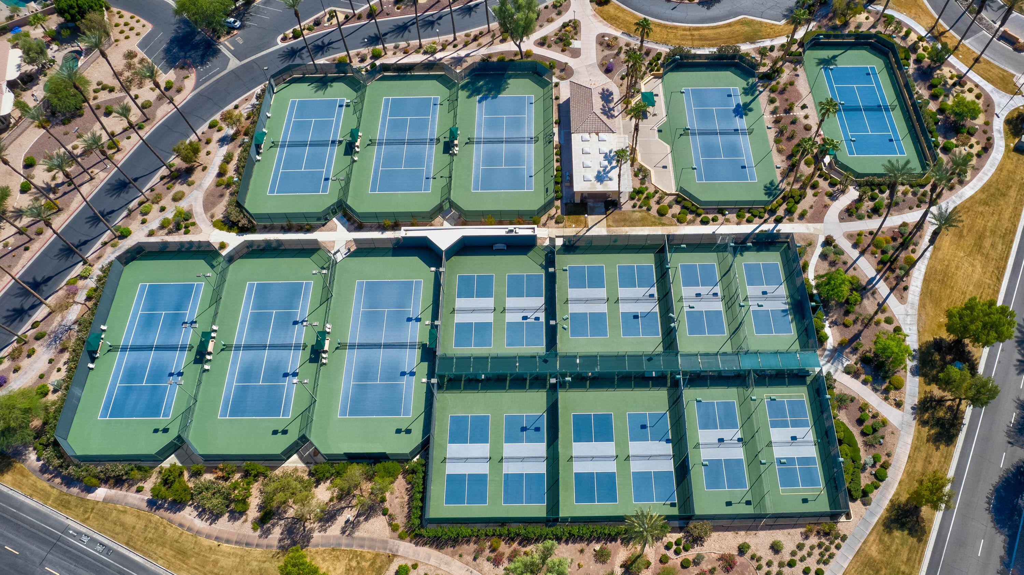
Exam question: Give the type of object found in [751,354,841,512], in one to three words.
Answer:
sports court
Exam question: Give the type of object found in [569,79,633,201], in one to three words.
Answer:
building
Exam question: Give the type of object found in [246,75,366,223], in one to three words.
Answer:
tennis court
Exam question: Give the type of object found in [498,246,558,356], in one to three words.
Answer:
sports court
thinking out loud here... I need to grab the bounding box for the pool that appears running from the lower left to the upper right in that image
[44,50,83,91]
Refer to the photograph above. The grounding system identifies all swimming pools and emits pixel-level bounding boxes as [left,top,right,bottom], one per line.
[1,0,39,7]
[44,50,83,91]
